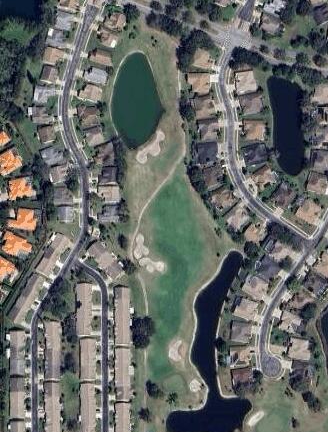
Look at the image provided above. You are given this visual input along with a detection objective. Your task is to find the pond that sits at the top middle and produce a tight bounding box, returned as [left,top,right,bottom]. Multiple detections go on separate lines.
[111,51,163,148]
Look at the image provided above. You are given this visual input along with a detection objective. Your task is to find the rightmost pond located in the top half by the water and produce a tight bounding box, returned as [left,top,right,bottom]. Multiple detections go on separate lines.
[266,76,306,175]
